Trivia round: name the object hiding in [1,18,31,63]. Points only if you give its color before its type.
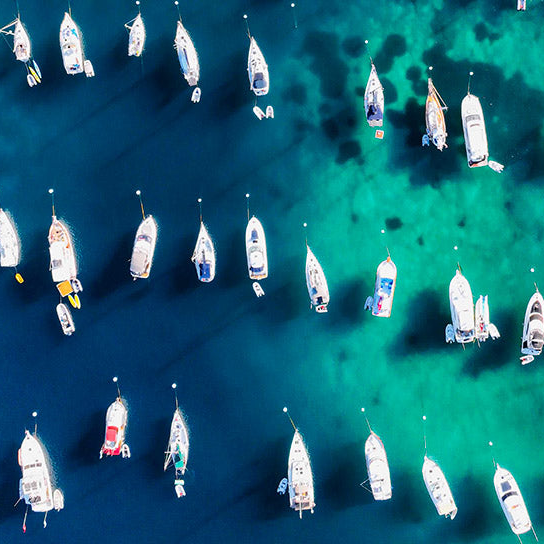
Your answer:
white boat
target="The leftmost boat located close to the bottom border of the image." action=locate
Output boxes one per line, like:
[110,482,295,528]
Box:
[17,432,53,531]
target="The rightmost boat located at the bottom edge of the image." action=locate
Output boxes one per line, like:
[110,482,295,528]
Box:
[497,467,535,542]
